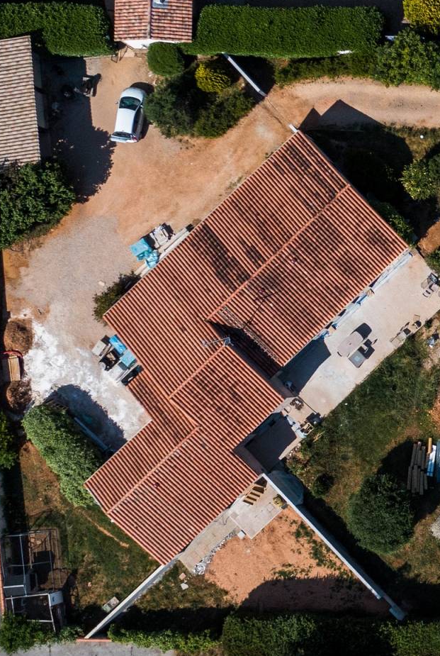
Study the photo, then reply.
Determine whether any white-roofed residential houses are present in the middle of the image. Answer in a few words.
No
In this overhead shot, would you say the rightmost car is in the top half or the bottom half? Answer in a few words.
top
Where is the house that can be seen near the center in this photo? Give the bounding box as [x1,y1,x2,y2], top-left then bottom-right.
[75,123,412,570]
